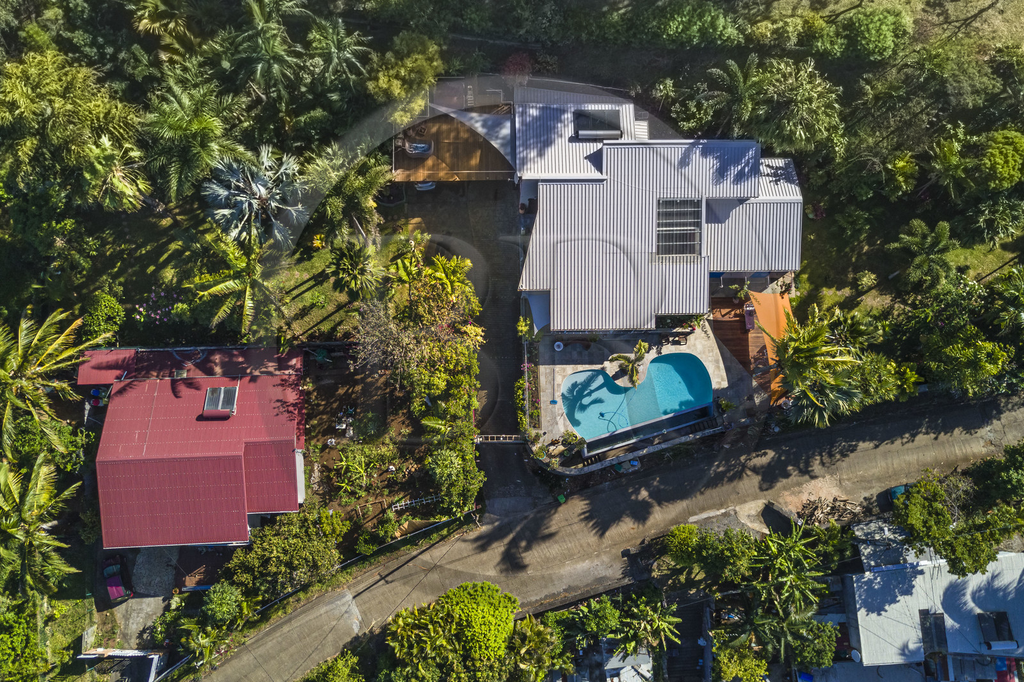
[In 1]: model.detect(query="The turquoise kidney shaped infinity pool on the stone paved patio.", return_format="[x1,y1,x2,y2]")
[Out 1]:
[560,352,714,457]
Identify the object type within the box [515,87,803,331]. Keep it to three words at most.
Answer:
house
